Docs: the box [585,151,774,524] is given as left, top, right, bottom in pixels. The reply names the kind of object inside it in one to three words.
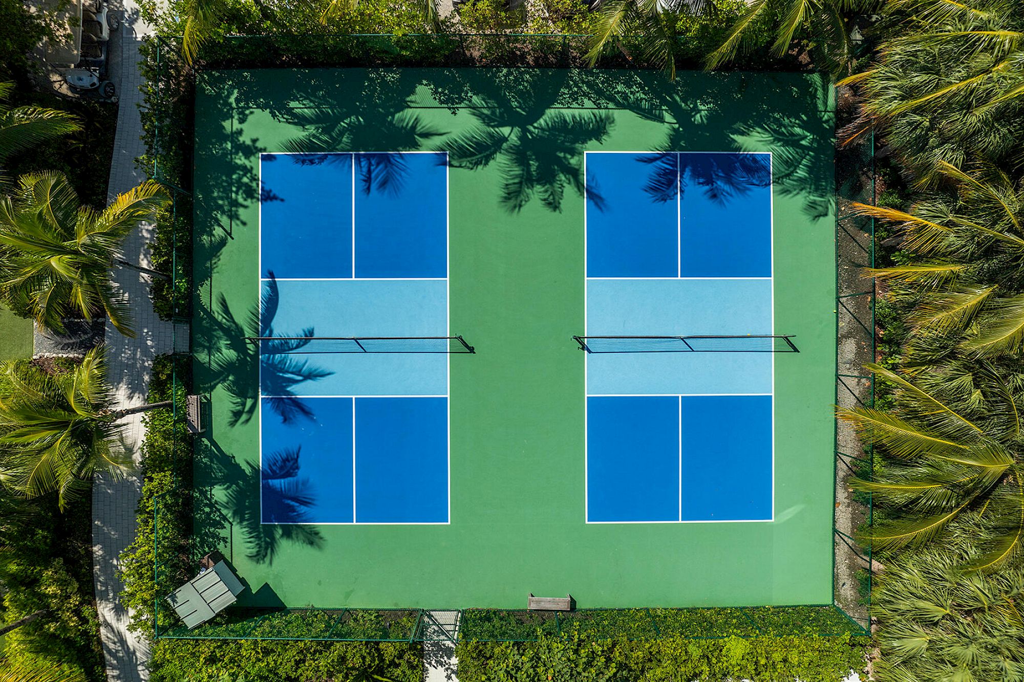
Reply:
sports court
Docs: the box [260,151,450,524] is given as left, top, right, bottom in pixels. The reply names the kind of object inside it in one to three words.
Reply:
sports court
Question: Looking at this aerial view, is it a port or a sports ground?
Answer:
sports ground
